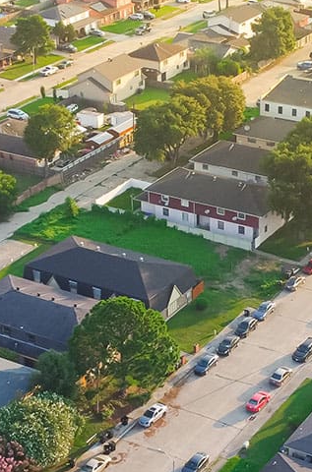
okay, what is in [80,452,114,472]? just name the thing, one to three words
car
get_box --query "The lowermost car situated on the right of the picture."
[178,446,209,472]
